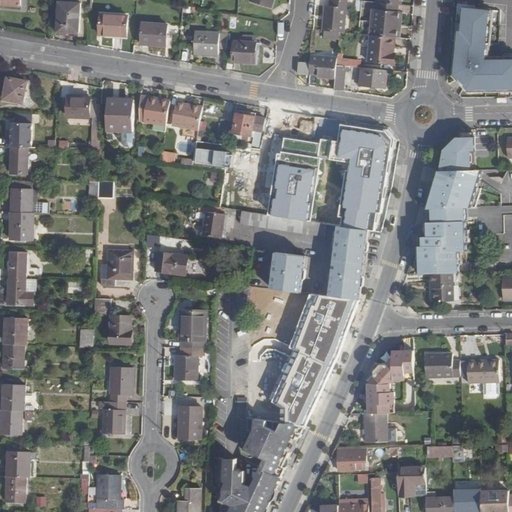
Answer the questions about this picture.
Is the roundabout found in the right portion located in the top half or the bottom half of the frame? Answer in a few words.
top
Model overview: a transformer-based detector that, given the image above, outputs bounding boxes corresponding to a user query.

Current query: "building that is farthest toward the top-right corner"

[450,2,512,103]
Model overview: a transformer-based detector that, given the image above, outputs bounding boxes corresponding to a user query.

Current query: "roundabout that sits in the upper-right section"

[399,90,448,140]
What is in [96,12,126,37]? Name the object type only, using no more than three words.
house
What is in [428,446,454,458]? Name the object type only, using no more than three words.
shed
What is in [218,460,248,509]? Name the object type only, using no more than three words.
building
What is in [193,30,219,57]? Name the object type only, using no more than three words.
house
